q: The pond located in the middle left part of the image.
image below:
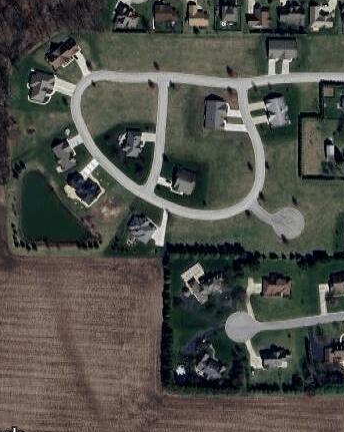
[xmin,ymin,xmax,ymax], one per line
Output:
[21,172,93,242]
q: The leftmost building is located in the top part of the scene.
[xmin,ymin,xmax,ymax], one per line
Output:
[26,75,54,101]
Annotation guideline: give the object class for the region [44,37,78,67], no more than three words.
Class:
house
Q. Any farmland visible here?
Yes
